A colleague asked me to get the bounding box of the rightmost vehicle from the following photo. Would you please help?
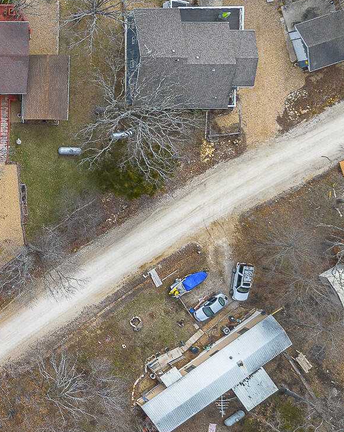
[229,262,255,302]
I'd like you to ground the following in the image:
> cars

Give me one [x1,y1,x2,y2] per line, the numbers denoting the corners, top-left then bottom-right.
[229,262,255,302]
[191,291,230,323]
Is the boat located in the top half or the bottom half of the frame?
bottom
